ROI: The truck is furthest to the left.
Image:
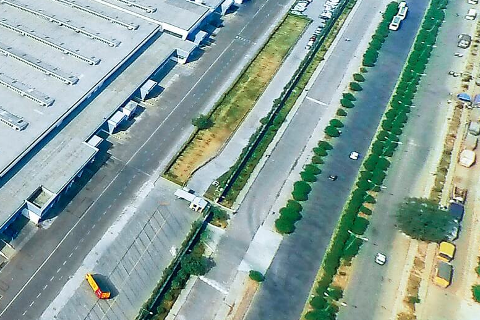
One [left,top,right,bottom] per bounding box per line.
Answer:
[87,269,112,297]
